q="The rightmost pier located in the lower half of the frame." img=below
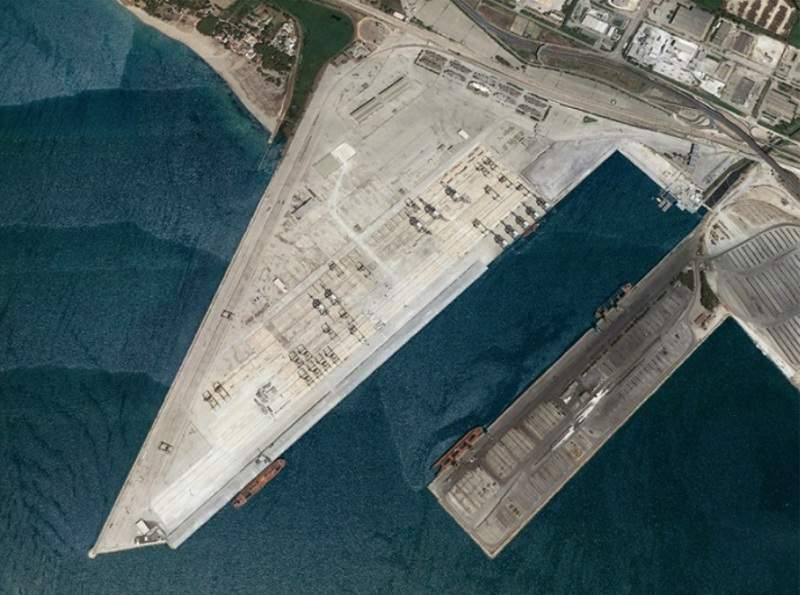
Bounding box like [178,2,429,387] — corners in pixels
[427,217,737,558]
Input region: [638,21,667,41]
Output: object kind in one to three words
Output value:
building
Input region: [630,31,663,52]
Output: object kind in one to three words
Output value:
building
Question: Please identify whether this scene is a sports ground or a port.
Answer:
port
